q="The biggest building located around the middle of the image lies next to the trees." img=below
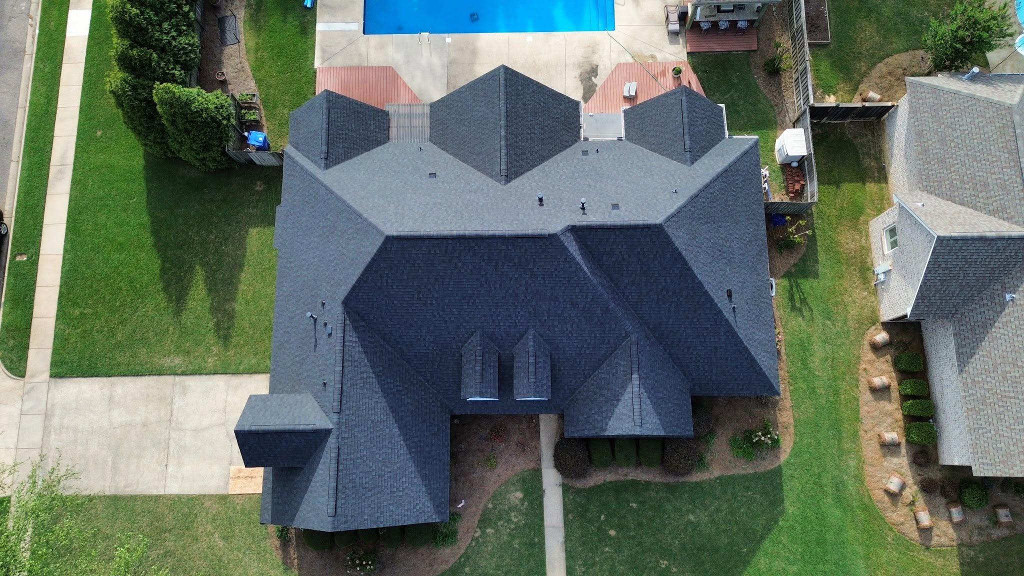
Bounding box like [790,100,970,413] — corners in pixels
[232,65,782,532]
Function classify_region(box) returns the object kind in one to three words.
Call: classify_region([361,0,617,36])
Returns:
swimming pool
